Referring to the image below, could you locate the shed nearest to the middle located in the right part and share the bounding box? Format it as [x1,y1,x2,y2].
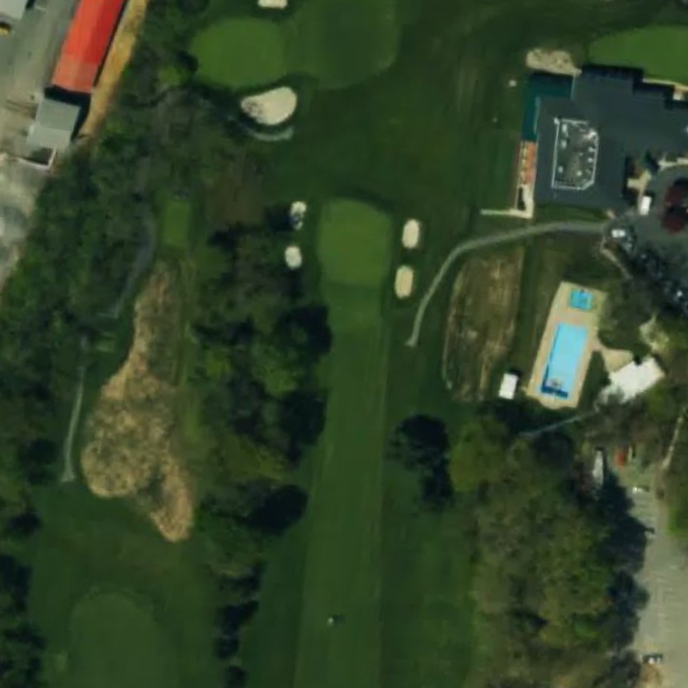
[500,373,519,399]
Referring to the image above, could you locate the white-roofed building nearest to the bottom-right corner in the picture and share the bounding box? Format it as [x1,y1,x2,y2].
[604,356,665,403]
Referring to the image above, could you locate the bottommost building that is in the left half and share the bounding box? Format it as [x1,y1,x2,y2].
[23,99,79,150]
